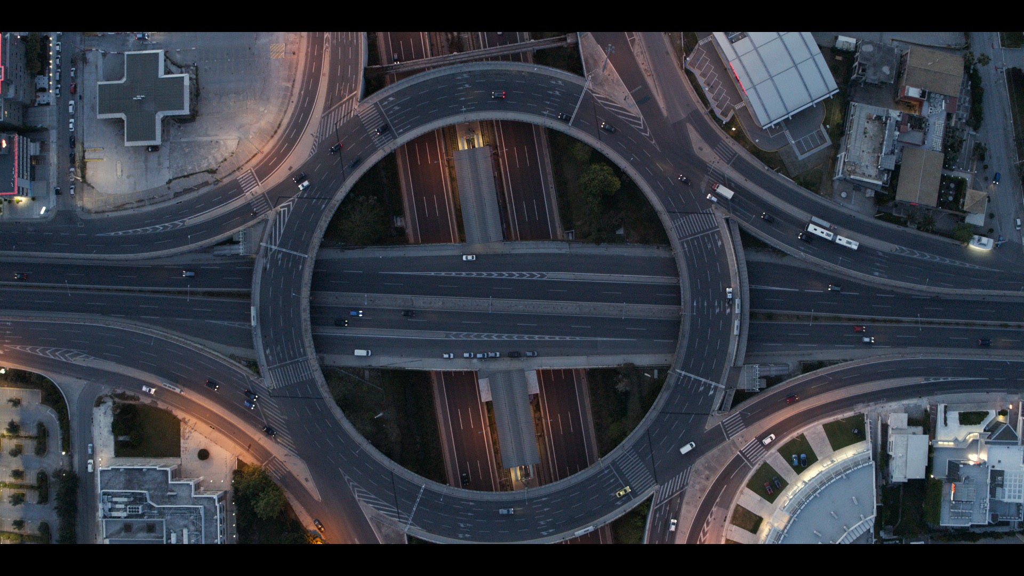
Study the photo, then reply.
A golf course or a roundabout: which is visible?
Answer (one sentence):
There is a roundabout in the scene.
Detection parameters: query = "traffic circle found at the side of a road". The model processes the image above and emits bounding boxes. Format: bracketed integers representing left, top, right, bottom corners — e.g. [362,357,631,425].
[252,61,738,550]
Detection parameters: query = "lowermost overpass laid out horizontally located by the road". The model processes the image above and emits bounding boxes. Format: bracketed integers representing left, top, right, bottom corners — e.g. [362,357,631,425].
[315,240,677,370]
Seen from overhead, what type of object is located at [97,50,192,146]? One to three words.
building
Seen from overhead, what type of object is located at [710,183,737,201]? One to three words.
vehicle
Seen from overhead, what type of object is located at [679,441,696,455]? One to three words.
vehicle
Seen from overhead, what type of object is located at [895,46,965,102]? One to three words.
house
